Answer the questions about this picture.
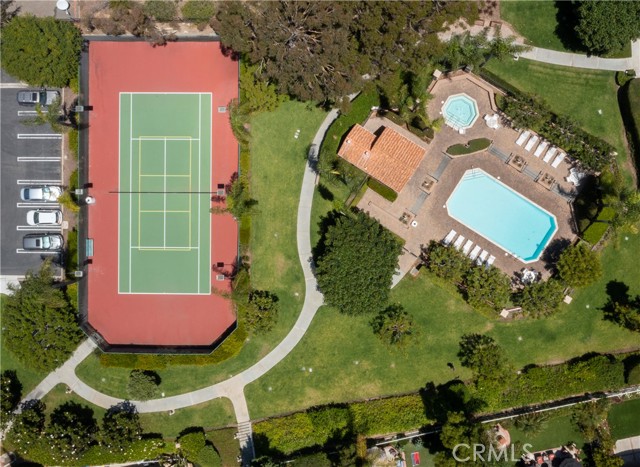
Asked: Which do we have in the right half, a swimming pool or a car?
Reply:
swimming pool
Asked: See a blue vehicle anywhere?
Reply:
No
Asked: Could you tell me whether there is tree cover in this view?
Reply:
Yes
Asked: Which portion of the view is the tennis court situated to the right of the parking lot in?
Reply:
left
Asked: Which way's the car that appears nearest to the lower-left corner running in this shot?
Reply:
from side to side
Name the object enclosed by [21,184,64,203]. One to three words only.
car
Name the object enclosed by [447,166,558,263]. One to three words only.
swimming pool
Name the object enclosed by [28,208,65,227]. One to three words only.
car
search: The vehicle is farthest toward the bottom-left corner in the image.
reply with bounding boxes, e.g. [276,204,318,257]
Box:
[22,232,66,252]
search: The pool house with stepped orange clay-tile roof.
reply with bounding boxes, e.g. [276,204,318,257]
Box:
[338,123,426,193]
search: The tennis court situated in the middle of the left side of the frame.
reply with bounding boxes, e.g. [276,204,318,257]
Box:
[88,43,239,349]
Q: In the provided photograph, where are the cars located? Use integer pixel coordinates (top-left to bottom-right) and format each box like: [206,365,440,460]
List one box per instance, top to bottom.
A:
[16,87,62,108]
[21,184,64,203]
[28,208,65,227]
[22,232,66,252]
